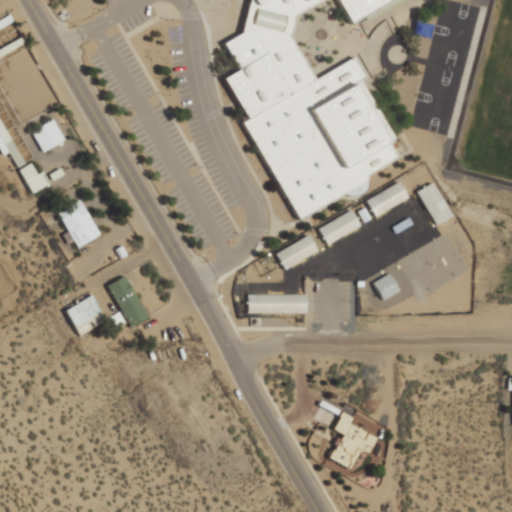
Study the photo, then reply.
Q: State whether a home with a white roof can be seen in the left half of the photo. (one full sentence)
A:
Yes, a home with a white roof shows up in the left half of the photo.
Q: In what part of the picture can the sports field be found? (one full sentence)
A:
The sports field sits in the top right section of the image.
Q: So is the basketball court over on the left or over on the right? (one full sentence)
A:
The basketball court sits on the right side.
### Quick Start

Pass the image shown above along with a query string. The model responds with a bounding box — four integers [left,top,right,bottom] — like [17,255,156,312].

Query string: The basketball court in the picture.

[414,0,488,138]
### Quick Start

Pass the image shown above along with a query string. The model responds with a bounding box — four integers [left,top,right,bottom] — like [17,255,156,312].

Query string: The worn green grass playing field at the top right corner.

[464,0,512,180]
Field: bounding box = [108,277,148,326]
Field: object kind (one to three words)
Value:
building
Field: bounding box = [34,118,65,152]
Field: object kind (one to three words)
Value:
house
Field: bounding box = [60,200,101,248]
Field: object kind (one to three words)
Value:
house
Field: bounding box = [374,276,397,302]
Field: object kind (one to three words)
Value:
shed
